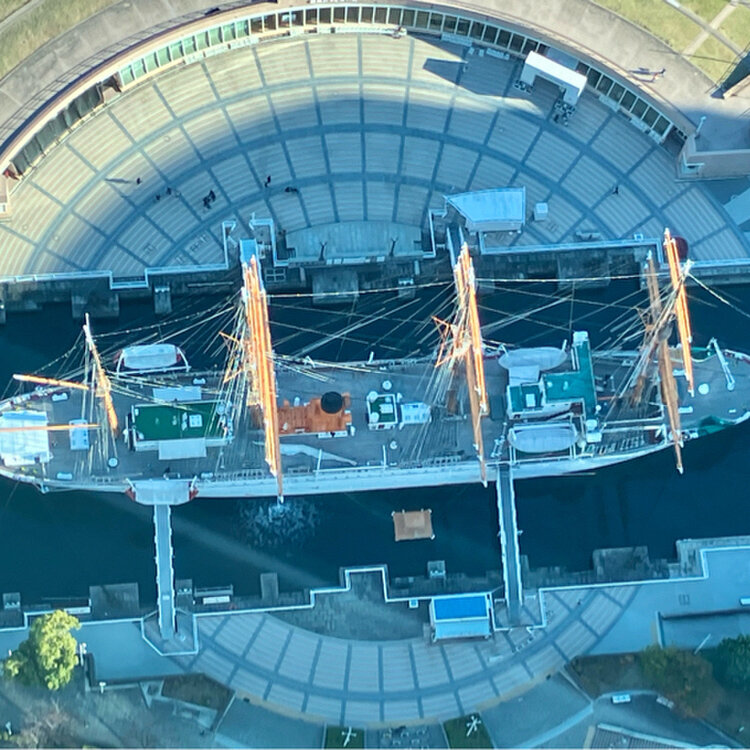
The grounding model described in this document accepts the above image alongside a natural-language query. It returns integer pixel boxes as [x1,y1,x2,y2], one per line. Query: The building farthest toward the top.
[0,0,688,193]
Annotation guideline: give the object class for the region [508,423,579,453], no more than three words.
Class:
boat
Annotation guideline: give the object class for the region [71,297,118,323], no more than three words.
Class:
pier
